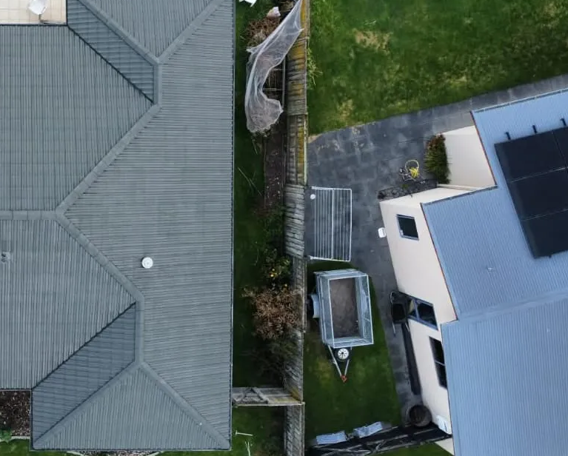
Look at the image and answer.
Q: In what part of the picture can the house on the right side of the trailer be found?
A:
right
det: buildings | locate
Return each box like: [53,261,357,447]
[381,86,568,456]
[0,0,237,453]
